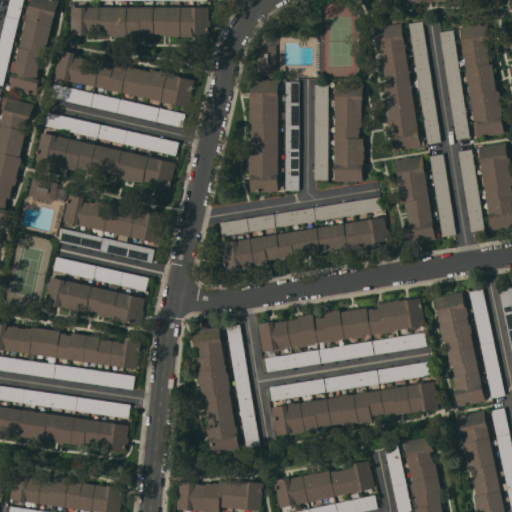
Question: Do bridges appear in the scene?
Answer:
No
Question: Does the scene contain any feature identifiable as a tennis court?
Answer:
Yes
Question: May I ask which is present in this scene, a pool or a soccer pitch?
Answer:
pool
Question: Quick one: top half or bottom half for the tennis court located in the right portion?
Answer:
top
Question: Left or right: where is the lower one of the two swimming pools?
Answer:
left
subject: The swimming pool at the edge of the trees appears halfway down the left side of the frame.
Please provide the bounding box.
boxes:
[22,198,67,235]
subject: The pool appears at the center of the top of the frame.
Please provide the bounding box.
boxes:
[280,38,322,78]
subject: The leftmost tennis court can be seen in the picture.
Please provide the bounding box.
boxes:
[7,236,52,302]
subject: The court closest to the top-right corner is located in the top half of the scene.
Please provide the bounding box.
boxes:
[323,5,358,76]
